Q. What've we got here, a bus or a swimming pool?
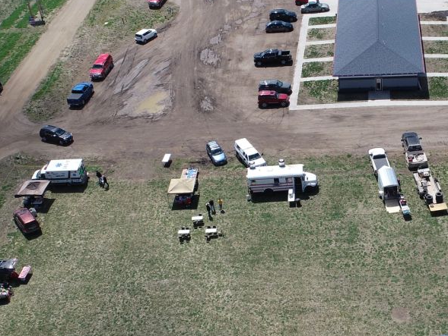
bus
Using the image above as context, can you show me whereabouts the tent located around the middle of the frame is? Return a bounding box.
[168,179,197,208]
